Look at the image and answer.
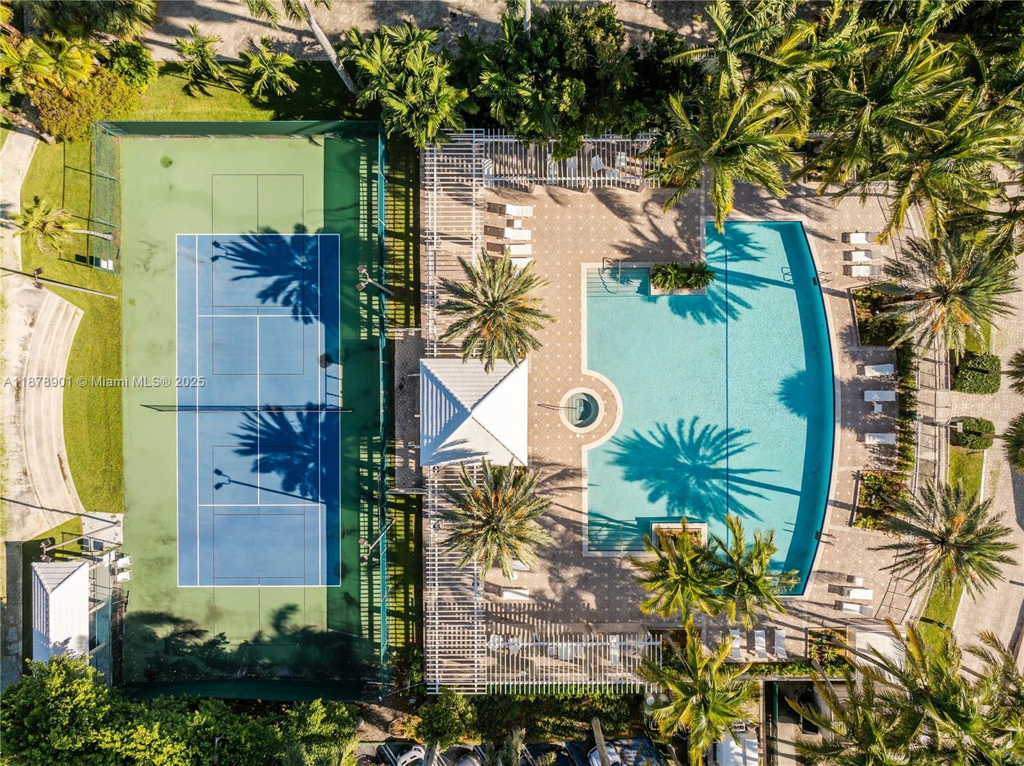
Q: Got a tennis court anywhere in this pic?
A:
Yes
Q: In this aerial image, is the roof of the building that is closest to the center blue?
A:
No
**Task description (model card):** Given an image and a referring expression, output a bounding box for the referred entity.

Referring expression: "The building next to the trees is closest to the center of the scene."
[419,357,529,467]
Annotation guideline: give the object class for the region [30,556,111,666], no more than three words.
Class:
shed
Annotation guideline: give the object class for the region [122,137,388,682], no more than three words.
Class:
tennis court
